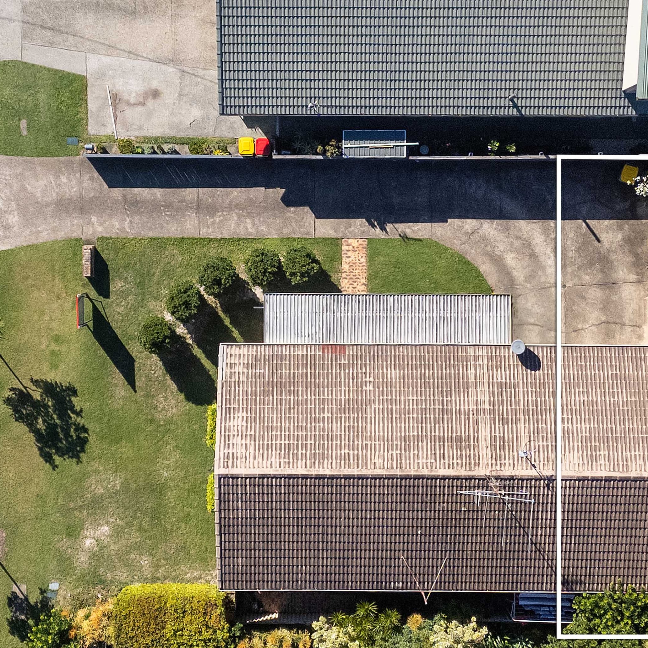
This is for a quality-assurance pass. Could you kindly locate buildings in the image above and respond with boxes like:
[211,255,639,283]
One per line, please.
[343,130,406,159]
[212,342,648,597]
[213,0,648,120]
